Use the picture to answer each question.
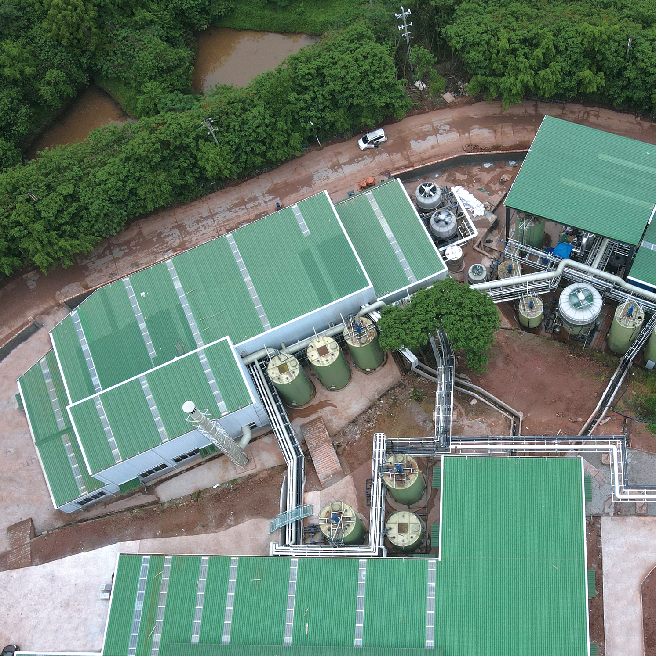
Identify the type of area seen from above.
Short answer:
industrial area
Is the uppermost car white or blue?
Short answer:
white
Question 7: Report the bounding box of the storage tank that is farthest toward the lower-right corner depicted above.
[385,512,427,558]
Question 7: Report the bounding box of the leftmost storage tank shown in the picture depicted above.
[265,354,314,405]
